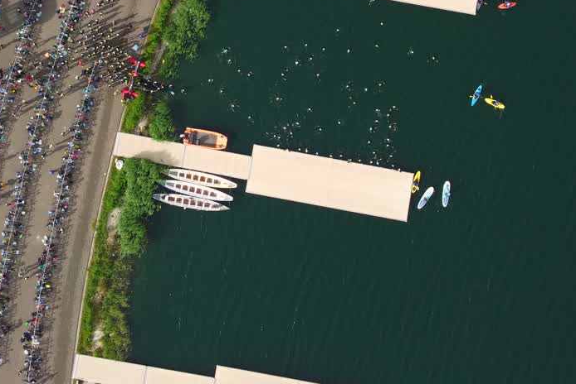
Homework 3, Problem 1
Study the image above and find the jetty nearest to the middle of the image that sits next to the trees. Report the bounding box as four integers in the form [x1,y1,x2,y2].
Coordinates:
[111,131,414,221]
